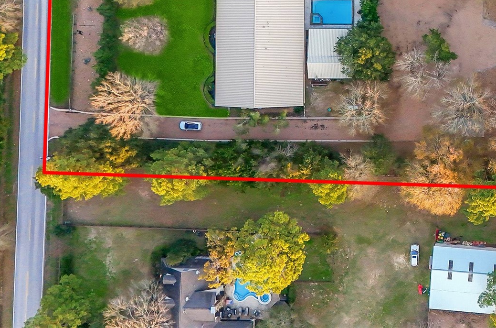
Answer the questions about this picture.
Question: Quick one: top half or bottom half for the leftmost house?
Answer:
bottom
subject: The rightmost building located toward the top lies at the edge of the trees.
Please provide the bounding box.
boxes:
[306,29,353,78]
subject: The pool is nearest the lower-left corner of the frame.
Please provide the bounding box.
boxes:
[231,283,258,303]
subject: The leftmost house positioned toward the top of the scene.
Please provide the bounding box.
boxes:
[215,0,305,107]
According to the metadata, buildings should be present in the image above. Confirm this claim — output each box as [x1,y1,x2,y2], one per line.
[159,258,254,328]
[306,29,353,78]
[215,0,305,107]
[429,240,496,315]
